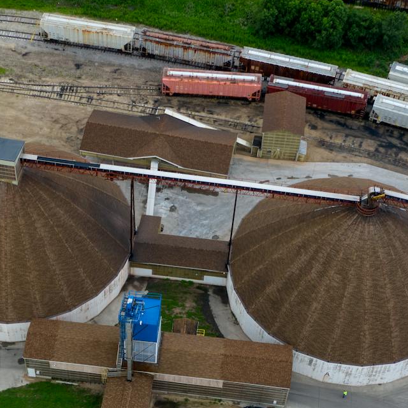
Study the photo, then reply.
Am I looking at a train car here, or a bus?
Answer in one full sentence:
Visible in the photo is a train car.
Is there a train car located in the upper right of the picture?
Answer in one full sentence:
Yes, there is a train car in the upper right of the picture.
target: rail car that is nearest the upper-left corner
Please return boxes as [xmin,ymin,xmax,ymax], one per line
[39,13,139,49]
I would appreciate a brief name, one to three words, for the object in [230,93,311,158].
shed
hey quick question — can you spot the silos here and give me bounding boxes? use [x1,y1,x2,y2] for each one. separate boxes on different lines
[0,141,133,342]
[227,176,408,385]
